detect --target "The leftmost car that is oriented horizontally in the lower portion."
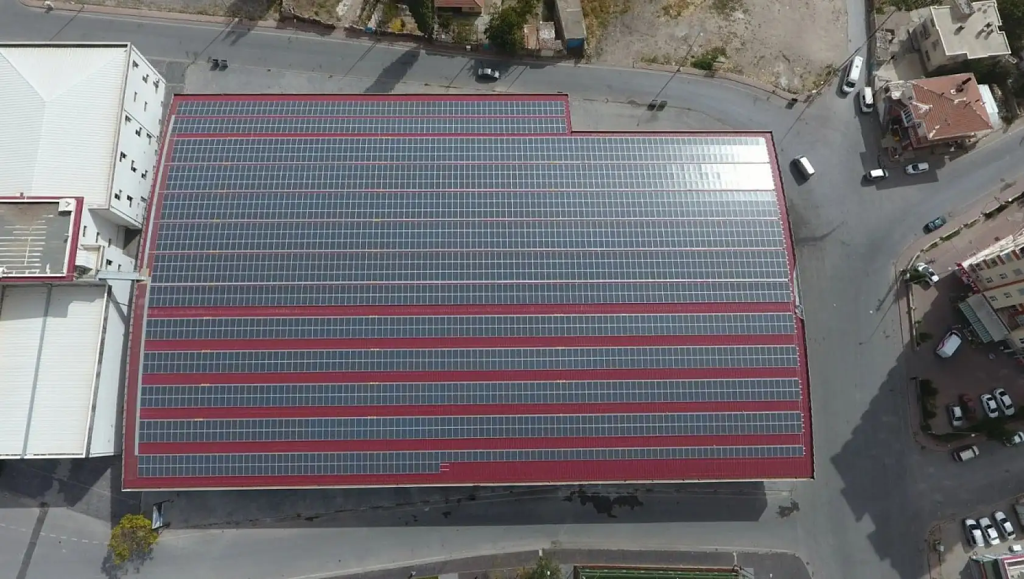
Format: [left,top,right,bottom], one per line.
[950,445,980,461]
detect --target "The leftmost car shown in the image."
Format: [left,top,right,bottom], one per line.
[477,67,500,81]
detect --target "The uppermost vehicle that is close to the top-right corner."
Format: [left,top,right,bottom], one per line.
[841,54,866,92]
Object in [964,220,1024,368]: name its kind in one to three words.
building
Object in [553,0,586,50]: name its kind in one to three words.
shed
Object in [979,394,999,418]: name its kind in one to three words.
car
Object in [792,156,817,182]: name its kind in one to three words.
vehicle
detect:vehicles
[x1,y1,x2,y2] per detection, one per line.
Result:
[903,163,930,177]
[993,510,1015,540]
[962,519,985,547]
[958,394,977,421]
[792,156,817,182]
[917,262,941,286]
[950,445,980,461]
[865,170,887,182]
[946,402,964,427]
[841,54,866,92]
[993,389,1013,415]
[860,87,874,113]
[1013,500,1024,528]
[935,331,961,359]
[979,394,999,418]
[477,67,500,81]
[977,517,999,545]
[920,215,948,234]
